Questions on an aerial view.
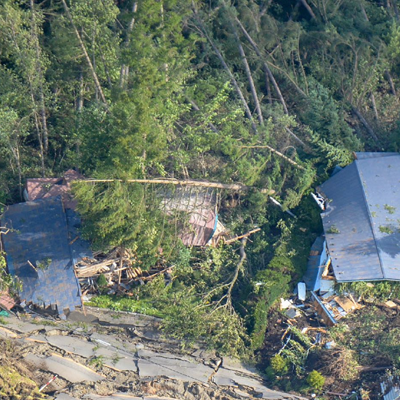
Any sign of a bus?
No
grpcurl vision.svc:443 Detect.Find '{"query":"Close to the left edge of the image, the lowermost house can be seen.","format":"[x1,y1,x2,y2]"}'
[1,194,92,322]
